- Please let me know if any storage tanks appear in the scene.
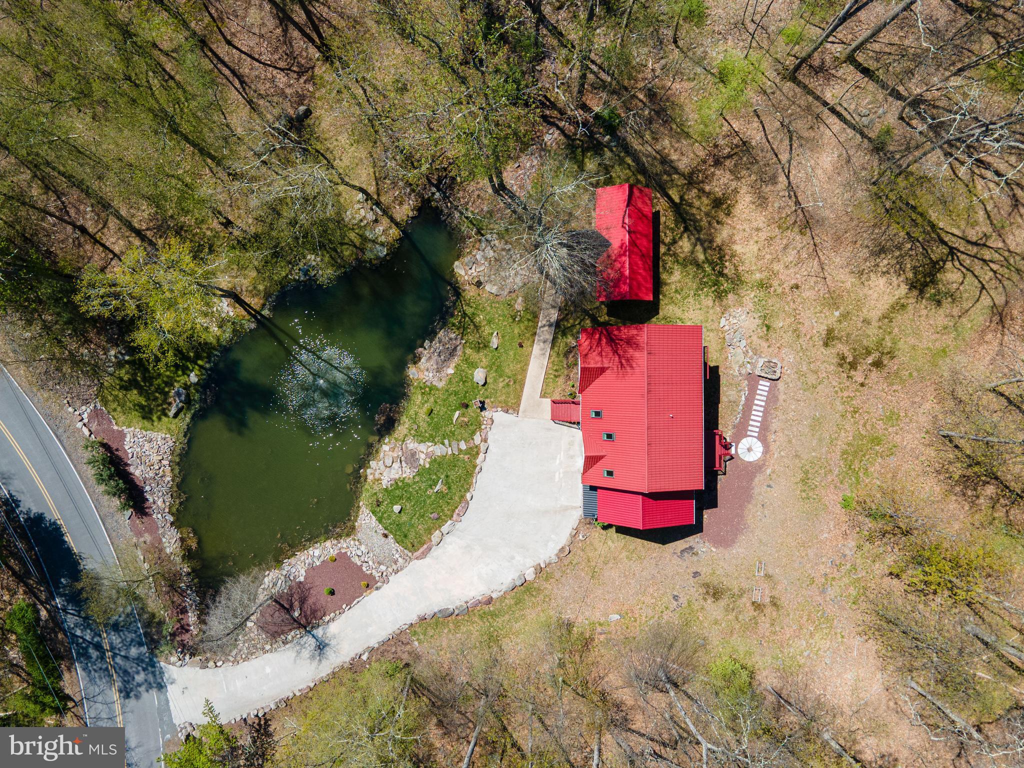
No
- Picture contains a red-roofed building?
Yes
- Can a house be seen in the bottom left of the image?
No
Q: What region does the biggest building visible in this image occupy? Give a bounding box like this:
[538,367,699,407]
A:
[550,324,735,529]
